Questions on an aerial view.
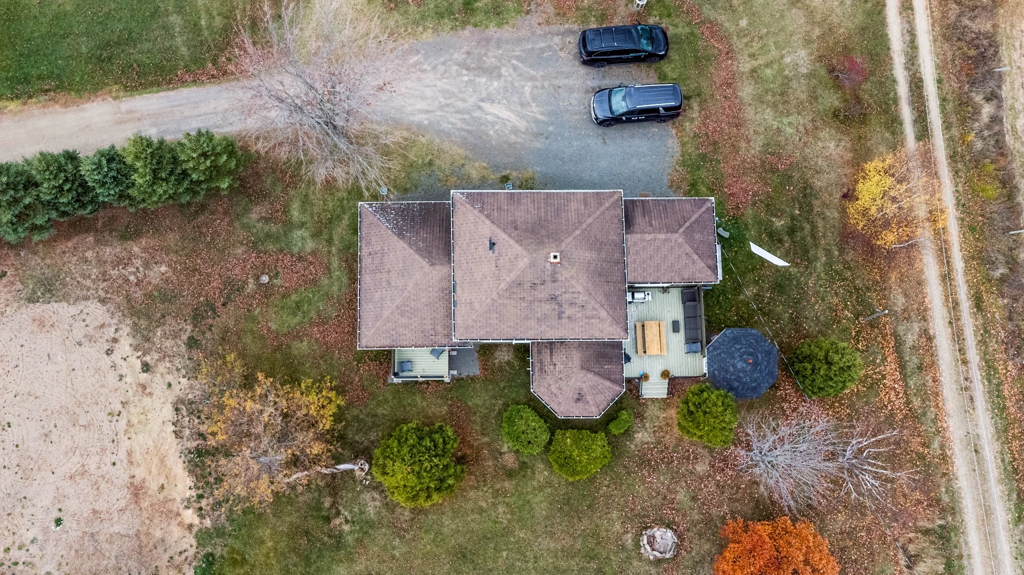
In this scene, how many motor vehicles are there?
2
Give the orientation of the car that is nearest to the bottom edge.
from left to right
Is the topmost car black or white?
black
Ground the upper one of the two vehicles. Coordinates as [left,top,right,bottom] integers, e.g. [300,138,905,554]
[582,21,671,68]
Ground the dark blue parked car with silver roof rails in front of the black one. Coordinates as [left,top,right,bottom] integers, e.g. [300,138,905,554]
[590,81,683,126]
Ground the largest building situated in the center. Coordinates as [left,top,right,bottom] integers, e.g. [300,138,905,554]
[356,188,721,421]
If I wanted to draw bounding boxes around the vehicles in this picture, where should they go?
[590,81,683,126]
[582,21,671,68]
